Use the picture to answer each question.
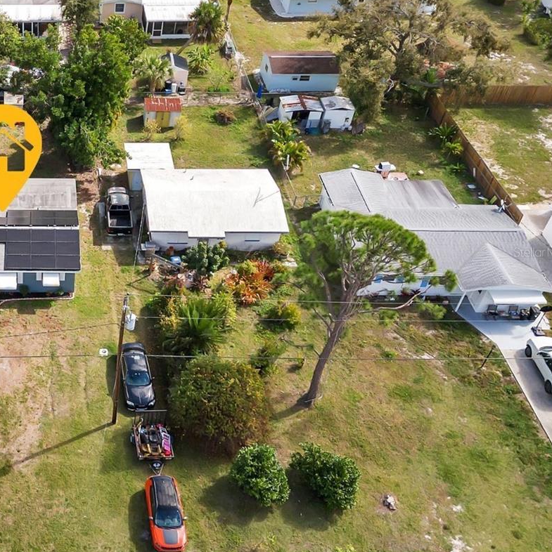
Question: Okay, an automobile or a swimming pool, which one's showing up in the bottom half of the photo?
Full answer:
It is an automobile that can be seen in the bottom half of the photo.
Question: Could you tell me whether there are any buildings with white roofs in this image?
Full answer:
Yes, the picture does show a building with a white roof.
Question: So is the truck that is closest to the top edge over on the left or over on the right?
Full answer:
It is on the left.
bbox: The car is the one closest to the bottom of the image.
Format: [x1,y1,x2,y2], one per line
[144,469,192,551]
